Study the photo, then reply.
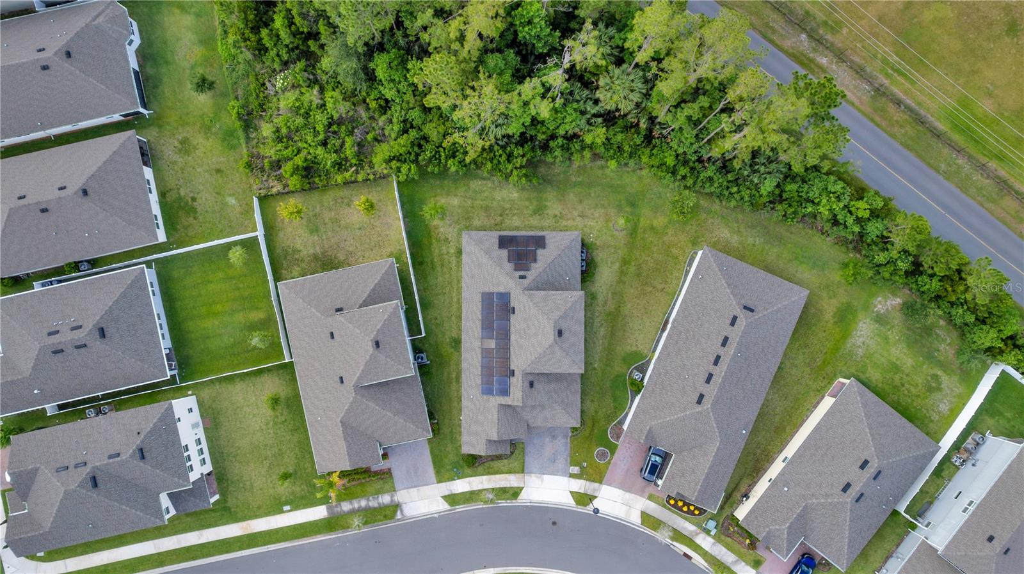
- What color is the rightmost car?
blue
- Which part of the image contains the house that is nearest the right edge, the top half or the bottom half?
bottom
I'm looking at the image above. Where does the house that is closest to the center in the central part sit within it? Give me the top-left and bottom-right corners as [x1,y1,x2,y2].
[462,231,585,455]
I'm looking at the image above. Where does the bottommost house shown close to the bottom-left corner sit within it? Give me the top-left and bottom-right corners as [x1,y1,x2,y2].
[4,396,220,558]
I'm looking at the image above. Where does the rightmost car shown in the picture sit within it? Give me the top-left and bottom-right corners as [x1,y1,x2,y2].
[789,551,816,574]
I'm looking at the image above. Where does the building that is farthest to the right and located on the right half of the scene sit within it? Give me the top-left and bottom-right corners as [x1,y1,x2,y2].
[875,435,1024,574]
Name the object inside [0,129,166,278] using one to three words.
house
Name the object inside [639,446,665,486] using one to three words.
car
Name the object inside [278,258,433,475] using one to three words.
house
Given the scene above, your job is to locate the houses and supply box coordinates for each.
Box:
[462,231,585,455]
[278,258,433,475]
[624,246,809,514]
[0,0,82,14]
[0,264,177,417]
[4,396,220,558]
[0,0,153,146]
[875,435,1024,574]
[733,377,941,572]
[0,129,166,278]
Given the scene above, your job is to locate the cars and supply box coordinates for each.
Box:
[789,551,816,574]
[639,446,665,486]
